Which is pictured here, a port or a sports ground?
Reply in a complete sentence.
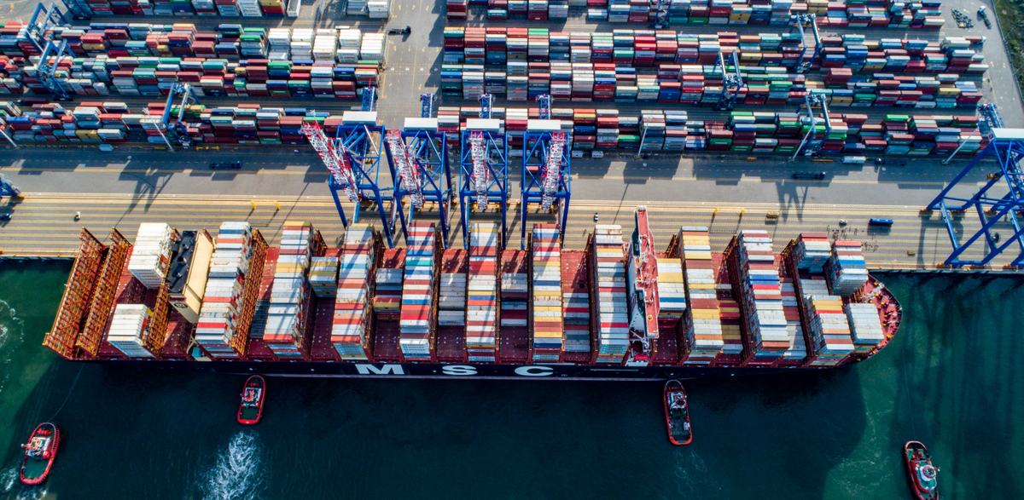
What you see here is a port.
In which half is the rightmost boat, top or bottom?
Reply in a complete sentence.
The bottom half of the photo is where the rightmost boat is.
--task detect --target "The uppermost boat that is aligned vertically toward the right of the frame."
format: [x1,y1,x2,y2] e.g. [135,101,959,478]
[663,379,692,446]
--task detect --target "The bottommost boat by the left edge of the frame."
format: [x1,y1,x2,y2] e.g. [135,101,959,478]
[18,421,62,485]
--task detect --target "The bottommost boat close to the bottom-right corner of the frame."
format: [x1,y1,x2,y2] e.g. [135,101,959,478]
[902,441,945,500]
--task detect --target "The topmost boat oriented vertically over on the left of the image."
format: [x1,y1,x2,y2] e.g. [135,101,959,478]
[236,375,266,427]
